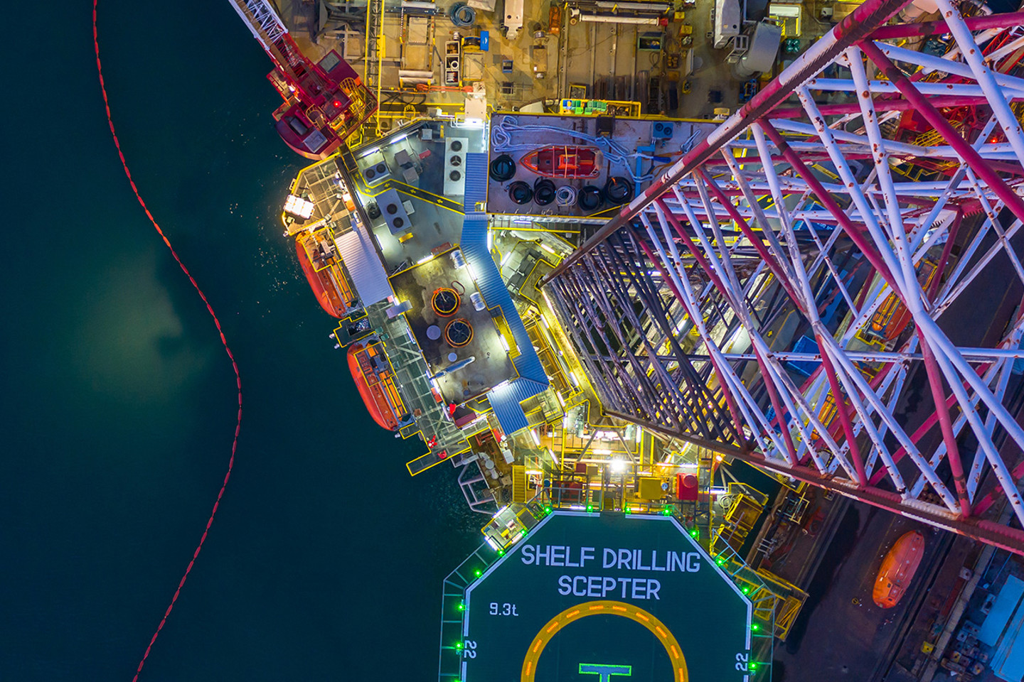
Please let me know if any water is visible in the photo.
Yes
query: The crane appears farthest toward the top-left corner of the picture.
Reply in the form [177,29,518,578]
[230,0,378,170]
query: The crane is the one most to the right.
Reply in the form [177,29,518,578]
[890,60,1024,180]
